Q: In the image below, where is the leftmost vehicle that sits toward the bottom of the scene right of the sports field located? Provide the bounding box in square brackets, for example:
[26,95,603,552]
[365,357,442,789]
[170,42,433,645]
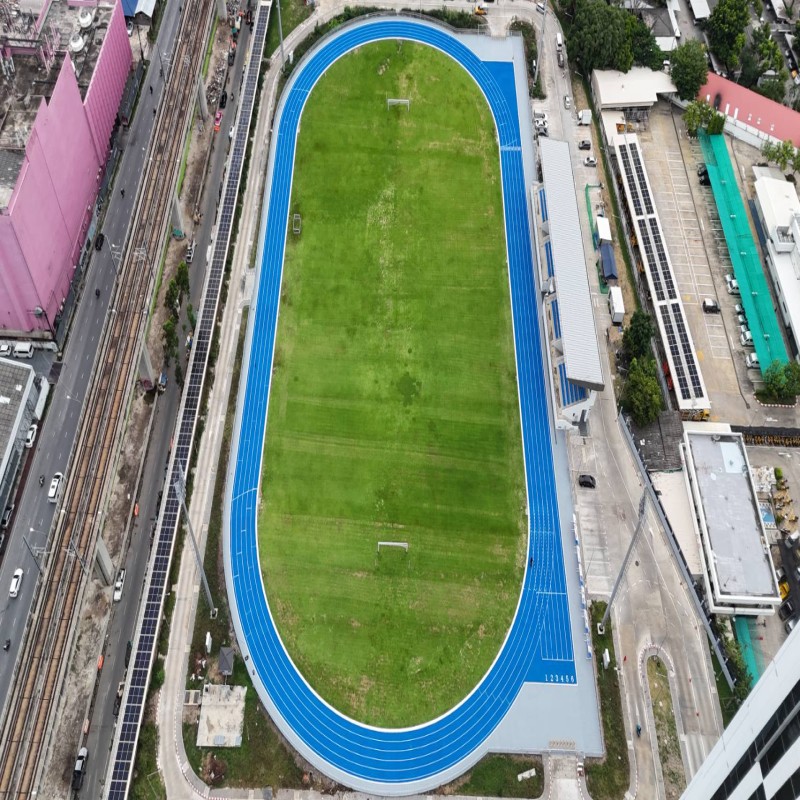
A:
[578,473,596,488]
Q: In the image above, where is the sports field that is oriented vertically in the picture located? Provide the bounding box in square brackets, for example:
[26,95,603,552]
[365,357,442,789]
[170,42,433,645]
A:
[257,38,528,727]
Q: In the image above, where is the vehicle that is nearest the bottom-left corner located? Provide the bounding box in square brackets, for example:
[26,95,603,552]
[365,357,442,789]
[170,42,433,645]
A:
[70,747,89,790]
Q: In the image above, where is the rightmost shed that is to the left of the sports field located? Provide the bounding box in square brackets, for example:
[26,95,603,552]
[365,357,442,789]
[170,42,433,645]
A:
[219,648,234,684]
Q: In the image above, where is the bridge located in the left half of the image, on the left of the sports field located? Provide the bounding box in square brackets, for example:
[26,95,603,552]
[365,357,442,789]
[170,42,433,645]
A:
[0,0,229,800]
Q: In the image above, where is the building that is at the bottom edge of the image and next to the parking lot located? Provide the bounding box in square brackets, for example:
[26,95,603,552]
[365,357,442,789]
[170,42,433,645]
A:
[683,629,800,800]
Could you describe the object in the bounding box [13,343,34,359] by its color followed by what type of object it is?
white vehicle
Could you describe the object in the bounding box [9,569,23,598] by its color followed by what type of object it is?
white car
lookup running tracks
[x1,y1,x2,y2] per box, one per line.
[223,16,604,797]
